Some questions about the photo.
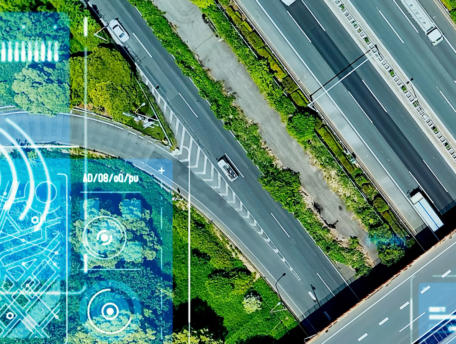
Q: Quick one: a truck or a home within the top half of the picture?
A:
truck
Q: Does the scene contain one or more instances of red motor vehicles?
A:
No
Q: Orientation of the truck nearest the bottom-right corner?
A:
at an angle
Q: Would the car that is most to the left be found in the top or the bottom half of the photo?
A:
top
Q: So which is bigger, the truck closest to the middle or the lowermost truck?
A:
the lowermost truck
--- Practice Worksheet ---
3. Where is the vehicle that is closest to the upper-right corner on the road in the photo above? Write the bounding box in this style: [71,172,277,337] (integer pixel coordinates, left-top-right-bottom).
[400,0,448,50]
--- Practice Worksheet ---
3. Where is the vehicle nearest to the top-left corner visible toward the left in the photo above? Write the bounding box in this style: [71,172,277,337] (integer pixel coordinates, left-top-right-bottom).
[109,17,132,44]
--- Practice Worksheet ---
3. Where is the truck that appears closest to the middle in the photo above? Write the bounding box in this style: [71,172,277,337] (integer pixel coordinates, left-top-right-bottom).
[214,154,240,182]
